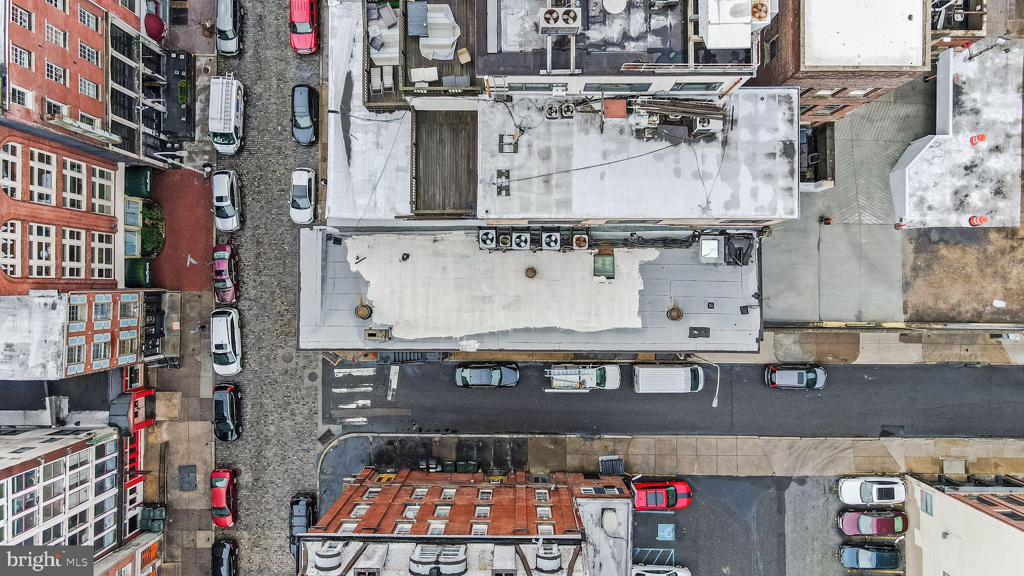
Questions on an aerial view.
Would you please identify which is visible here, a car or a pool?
car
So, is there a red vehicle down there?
Yes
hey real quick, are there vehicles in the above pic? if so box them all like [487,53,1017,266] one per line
[210,539,241,576]
[208,306,243,376]
[630,481,691,515]
[286,163,317,224]
[211,0,245,59]
[454,361,519,391]
[632,364,705,397]
[207,242,238,303]
[206,467,238,527]
[634,563,689,576]
[208,167,241,232]
[285,0,318,56]
[286,494,318,557]
[838,508,908,539]
[209,381,243,442]
[286,82,318,146]
[763,362,826,393]
[834,475,904,509]
[838,541,903,573]
[547,363,622,395]
[210,75,248,155]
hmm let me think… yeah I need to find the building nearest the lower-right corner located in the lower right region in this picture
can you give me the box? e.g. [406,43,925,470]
[905,475,1024,576]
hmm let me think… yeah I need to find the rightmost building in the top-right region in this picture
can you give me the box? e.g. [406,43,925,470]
[886,41,1023,230]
